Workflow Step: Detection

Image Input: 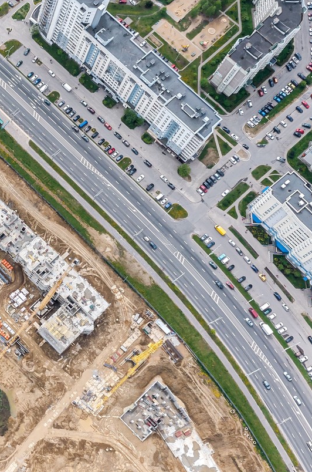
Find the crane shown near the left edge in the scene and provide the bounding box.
[0,254,87,358]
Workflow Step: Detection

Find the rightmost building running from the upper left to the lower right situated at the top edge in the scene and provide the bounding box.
[75,12,218,158]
